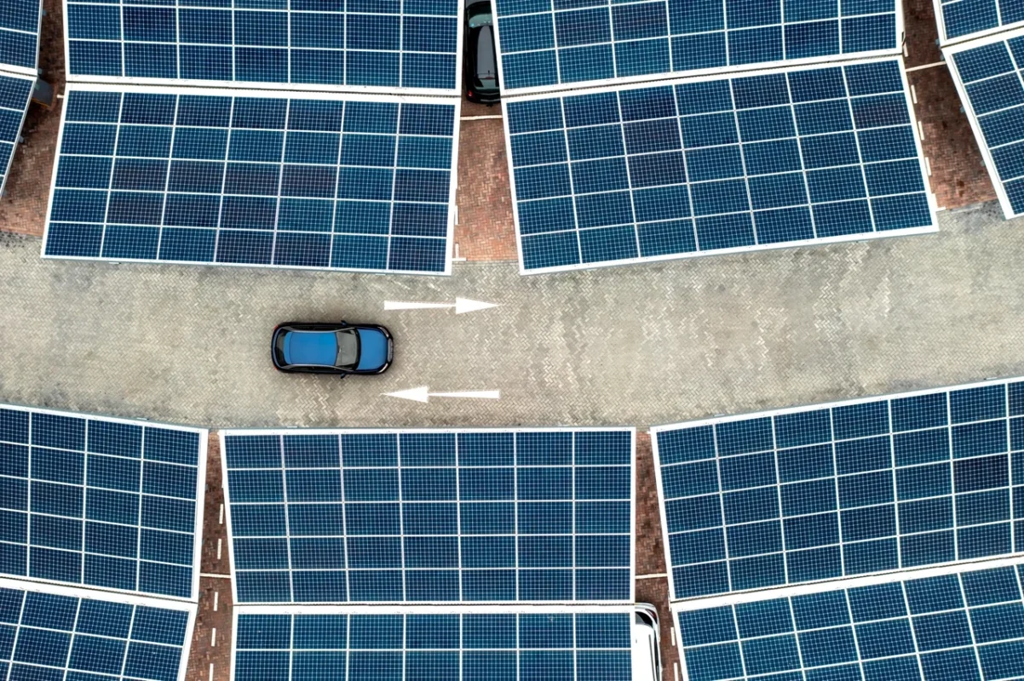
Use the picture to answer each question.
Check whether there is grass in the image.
No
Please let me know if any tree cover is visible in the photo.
No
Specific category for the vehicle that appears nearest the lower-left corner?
car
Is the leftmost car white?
No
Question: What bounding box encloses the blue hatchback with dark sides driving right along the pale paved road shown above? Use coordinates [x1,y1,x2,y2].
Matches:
[270,317,394,378]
